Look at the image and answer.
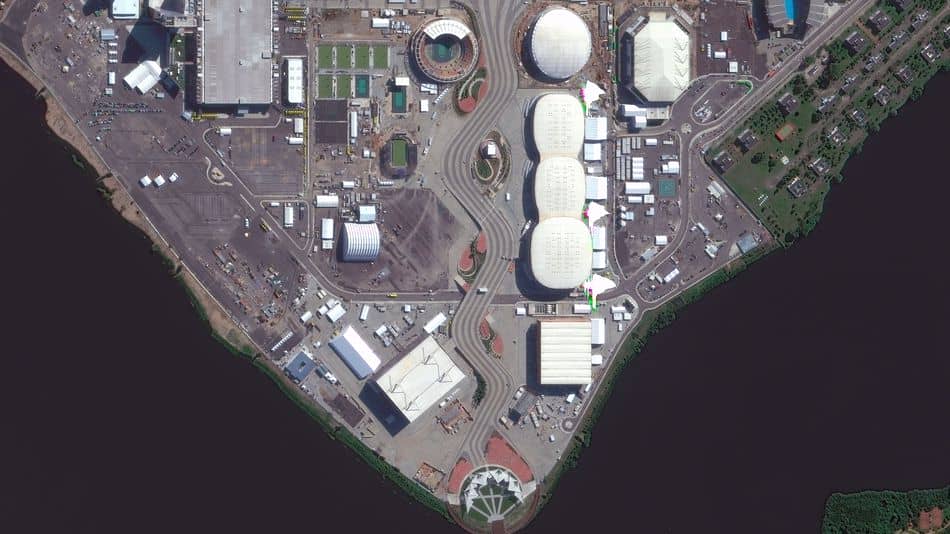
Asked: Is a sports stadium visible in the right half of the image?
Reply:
Yes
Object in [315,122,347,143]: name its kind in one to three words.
tennis court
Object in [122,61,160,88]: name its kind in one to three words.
tent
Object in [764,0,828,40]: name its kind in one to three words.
stadium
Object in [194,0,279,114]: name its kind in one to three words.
building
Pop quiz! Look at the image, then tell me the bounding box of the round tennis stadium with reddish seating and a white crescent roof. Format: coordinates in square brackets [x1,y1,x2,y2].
[407,14,480,87]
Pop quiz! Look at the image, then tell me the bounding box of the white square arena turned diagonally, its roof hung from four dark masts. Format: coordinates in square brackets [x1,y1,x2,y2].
[373,337,467,423]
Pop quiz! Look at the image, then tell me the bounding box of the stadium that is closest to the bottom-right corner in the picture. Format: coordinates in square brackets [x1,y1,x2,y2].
[535,319,592,386]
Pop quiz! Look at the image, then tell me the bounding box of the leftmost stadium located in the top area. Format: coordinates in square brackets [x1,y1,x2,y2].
[379,134,417,177]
